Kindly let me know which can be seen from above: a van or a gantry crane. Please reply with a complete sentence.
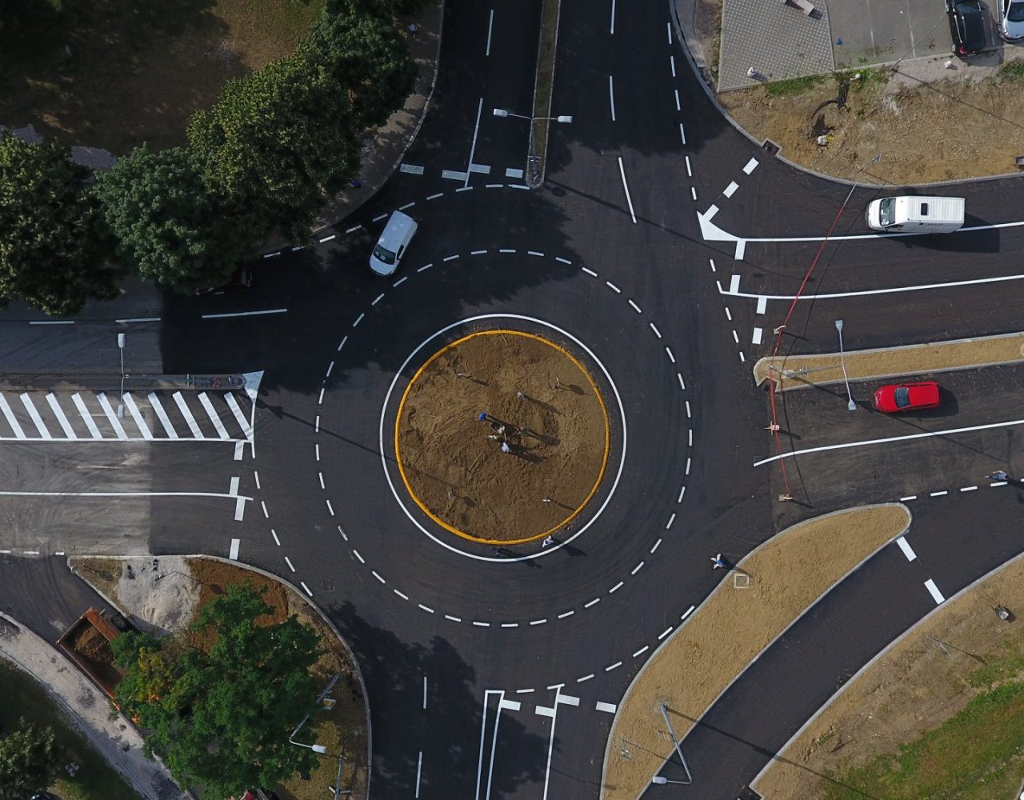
Of the two, only a van appears.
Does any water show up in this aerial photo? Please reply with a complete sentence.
No, water can't be seen anywhere here.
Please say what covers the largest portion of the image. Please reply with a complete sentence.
What you mostly see from above here is paved ground.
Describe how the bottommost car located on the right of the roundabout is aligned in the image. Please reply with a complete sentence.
From this overhead view, the bottommost car located on the right of the roundabout appears to run from left to right.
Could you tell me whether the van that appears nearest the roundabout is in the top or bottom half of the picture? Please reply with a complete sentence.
The top half of the photo is where the van that appears nearest the roundabout is.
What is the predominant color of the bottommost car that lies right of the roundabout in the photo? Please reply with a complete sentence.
The bottommost car that lies right of the roundabout looks red in the image.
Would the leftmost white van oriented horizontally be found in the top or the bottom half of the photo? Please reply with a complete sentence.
The leftmost white van oriented horizontally is in the top half of the image.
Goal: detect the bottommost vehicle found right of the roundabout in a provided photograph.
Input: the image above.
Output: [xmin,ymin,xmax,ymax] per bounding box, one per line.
[872,380,944,414]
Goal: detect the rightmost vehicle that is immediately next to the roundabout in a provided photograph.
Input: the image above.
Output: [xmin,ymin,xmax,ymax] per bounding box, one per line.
[368,210,419,279]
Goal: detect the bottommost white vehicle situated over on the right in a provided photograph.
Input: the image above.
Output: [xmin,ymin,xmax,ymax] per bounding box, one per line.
[862,192,968,233]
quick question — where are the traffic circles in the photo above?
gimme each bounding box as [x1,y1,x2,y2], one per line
[317,250,692,626]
